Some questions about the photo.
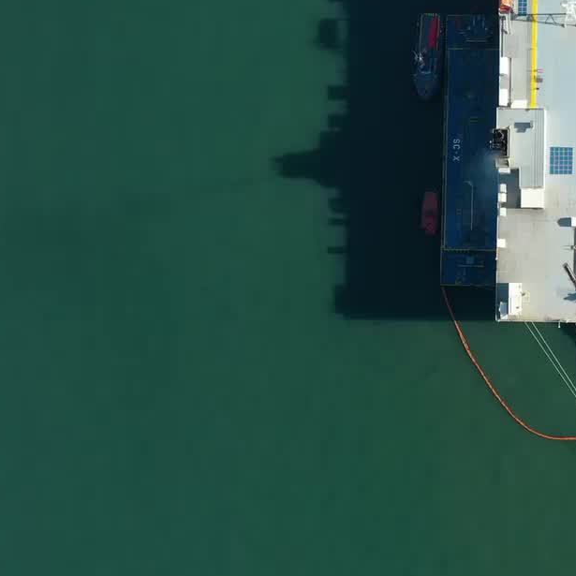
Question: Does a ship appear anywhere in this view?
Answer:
Yes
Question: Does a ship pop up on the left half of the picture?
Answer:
No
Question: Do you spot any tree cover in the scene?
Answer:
No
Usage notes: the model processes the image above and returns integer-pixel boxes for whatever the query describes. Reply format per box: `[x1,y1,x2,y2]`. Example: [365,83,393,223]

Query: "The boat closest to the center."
[421,192,439,235]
